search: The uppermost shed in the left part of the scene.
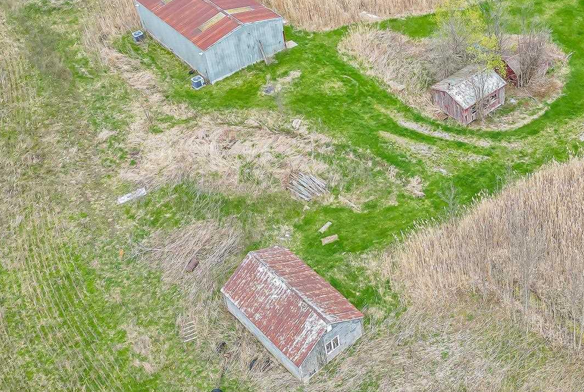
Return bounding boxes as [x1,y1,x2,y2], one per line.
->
[132,0,286,84]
